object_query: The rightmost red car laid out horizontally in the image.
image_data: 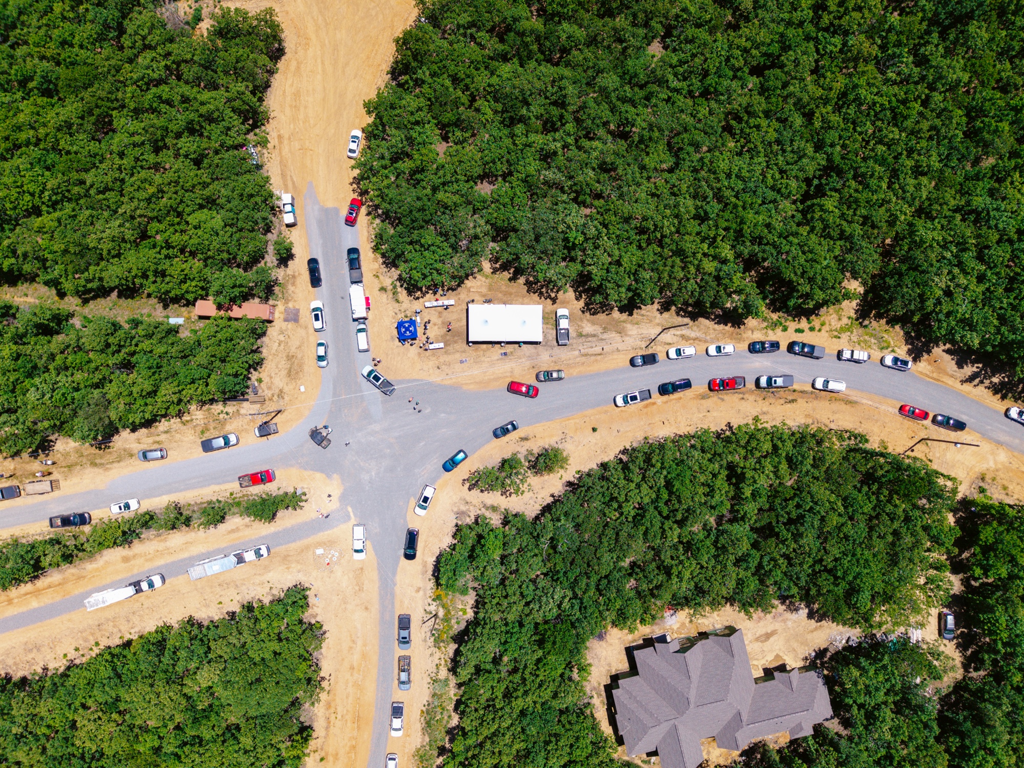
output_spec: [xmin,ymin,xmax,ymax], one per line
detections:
[897,404,931,421]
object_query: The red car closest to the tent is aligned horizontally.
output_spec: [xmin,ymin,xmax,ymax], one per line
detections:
[507,380,540,398]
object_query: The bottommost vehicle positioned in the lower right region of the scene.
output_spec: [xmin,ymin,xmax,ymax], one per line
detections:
[939,611,958,640]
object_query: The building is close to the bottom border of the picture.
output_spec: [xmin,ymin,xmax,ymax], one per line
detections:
[612,623,835,768]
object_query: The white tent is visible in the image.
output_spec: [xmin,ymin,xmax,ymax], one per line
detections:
[467,304,545,344]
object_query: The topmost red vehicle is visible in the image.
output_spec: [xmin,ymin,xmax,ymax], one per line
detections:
[344,197,362,227]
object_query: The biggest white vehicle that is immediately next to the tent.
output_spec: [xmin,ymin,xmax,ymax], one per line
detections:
[556,308,572,348]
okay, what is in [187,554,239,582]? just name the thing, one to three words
trailer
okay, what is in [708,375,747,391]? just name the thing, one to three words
vehicle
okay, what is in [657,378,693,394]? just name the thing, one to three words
car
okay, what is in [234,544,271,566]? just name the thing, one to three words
truck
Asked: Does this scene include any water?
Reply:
No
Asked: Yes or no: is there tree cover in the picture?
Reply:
Yes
